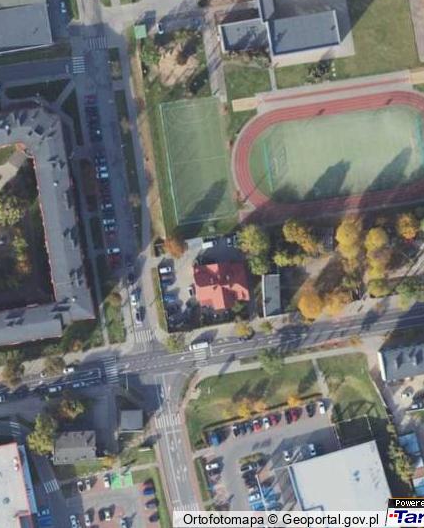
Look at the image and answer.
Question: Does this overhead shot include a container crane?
No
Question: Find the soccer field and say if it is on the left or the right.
right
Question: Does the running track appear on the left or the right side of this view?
right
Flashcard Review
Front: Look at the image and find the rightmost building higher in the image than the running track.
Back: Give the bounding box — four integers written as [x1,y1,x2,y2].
[268,11,339,57]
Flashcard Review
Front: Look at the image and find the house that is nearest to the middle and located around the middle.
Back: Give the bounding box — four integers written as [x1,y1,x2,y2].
[193,262,251,309]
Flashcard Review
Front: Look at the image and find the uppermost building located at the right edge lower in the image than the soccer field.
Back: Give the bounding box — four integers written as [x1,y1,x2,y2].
[378,345,424,381]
